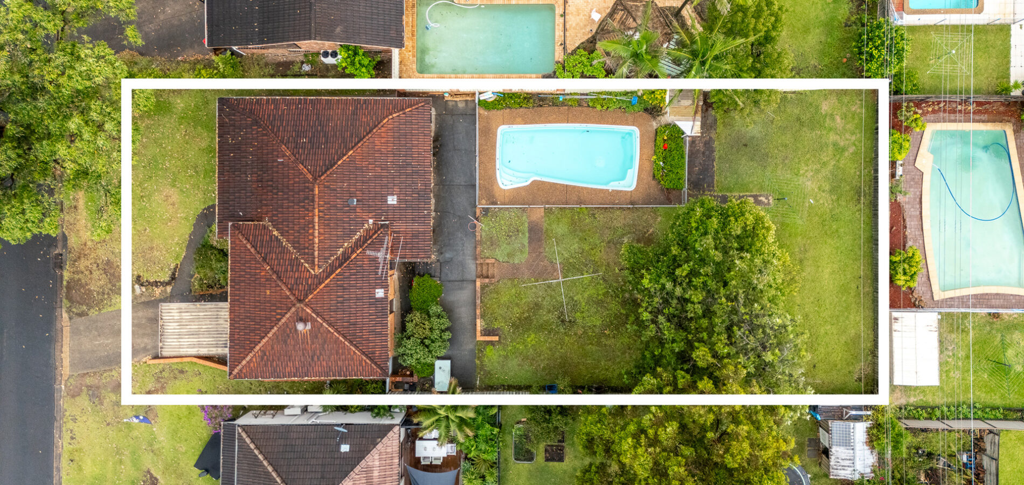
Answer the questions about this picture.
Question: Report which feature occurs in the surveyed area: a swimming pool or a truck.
swimming pool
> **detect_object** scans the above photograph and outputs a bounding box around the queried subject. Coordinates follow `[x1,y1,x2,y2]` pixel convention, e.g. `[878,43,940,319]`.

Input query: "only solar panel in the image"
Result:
[831,422,850,447]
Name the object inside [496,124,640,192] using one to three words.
swimming pool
